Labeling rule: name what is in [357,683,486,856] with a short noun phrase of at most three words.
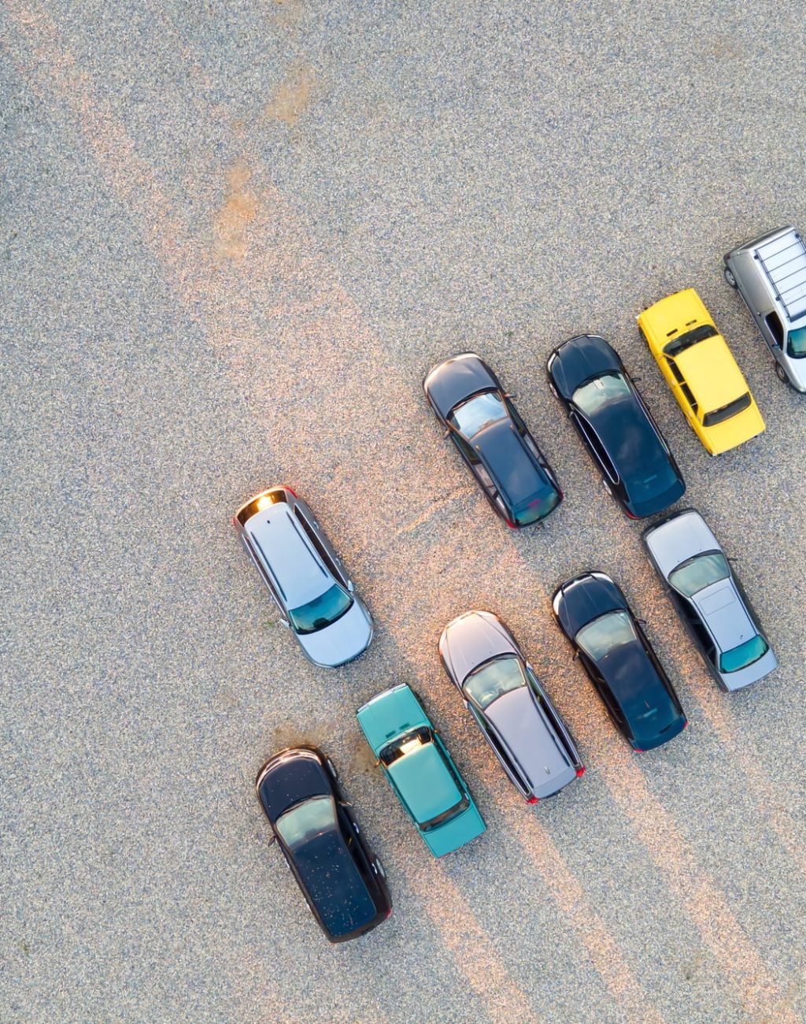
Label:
car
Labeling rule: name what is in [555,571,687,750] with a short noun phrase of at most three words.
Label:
car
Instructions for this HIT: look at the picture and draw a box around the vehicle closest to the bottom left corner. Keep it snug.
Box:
[258,743,390,941]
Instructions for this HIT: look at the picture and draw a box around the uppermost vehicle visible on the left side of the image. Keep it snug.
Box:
[237,487,369,665]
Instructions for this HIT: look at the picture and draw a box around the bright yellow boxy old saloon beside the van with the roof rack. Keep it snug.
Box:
[636,289,764,456]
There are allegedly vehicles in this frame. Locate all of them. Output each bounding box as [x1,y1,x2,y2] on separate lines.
[555,571,687,750]
[548,336,685,521]
[724,224,806,389]
[645,510,776,690]
[442,609,584,800]
[636,289,764,456]
[237,487,369,665]
[258,743,390,941]
[357,683,486,856]
[425,353,557,529]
